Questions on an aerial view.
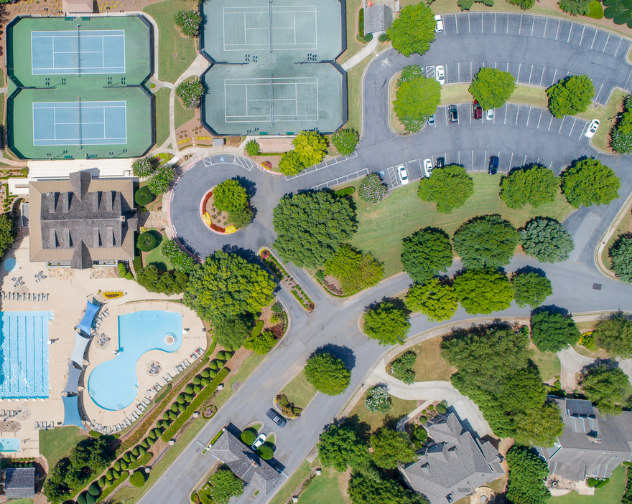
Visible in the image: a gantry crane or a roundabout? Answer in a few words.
roundabout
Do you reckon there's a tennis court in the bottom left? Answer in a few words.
No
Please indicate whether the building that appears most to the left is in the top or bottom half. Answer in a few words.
bottom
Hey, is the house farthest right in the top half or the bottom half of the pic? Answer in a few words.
bottom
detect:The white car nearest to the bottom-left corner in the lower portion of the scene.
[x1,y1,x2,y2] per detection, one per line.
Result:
[250,432,267,450]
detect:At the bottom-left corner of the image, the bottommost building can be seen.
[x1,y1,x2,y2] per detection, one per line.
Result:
[0,465,36,499]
